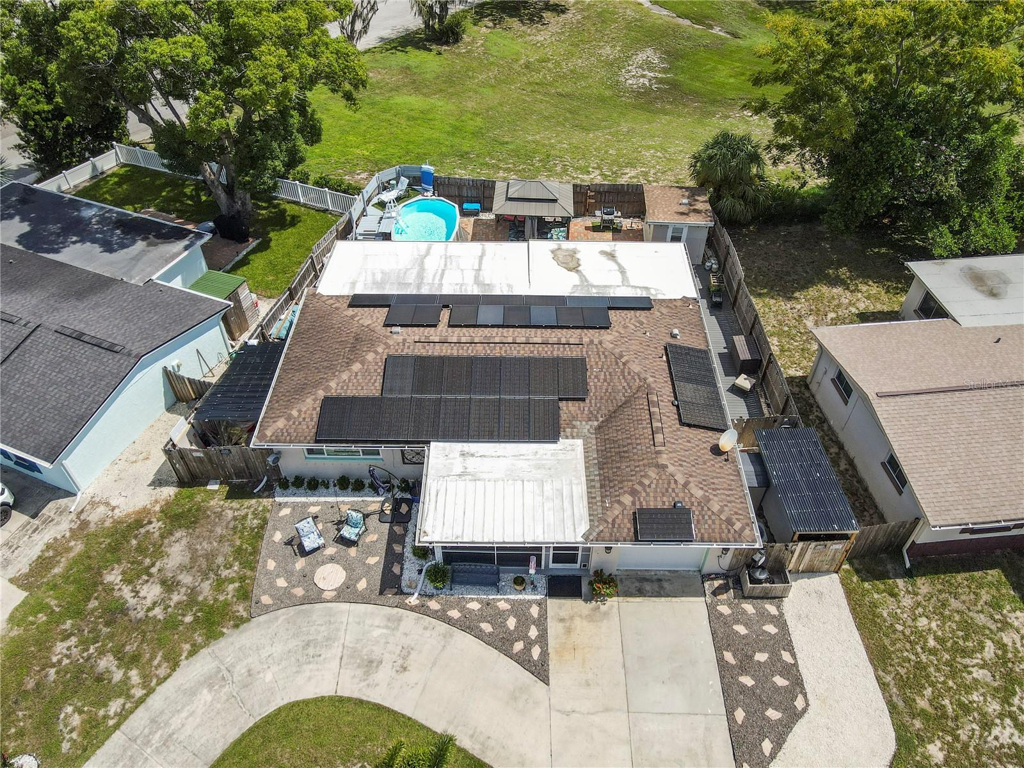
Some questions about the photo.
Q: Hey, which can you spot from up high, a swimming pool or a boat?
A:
swimming pool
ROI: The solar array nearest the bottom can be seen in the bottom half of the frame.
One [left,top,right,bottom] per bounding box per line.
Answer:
[636,509,696,542]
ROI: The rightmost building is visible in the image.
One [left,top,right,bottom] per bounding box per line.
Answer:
[809,255,1024,556]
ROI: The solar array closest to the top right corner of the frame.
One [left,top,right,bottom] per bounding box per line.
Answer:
[663,338,728,429]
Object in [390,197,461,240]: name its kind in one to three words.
swimming pool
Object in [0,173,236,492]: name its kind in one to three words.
house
